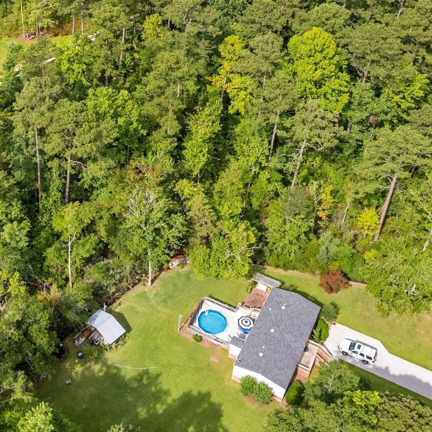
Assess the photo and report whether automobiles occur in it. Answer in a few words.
Yes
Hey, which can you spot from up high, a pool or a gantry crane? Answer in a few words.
pool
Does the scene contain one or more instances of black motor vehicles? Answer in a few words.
No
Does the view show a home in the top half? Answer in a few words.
No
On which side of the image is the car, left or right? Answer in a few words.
right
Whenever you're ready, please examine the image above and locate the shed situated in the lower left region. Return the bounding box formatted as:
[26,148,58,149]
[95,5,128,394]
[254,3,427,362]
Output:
[82,309,128,355]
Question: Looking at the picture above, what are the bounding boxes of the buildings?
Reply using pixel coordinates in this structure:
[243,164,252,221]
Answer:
[230,287,321,403]
[82,309,128,355]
